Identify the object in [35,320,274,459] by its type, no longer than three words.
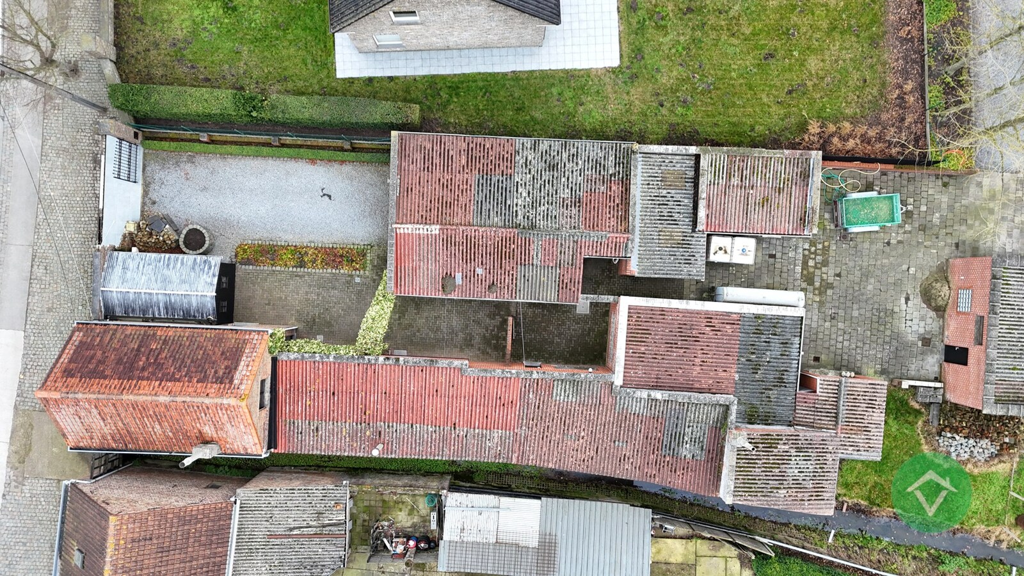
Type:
house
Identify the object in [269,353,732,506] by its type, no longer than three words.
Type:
barn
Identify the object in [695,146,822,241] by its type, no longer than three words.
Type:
shed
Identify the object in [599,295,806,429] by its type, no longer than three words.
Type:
building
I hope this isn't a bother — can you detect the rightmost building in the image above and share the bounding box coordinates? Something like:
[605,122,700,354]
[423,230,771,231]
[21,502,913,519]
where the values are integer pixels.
[942,255,1024,416]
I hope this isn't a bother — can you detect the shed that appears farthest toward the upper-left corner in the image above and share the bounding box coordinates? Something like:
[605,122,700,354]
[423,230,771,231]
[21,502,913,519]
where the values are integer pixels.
[99,250,236,320]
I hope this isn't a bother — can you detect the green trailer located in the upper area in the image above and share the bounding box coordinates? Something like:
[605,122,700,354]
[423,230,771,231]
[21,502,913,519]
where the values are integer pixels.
[829,190,910,234]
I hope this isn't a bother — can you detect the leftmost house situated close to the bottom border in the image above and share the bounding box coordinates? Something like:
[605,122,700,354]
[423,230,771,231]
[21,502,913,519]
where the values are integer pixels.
[60,459,253,576]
